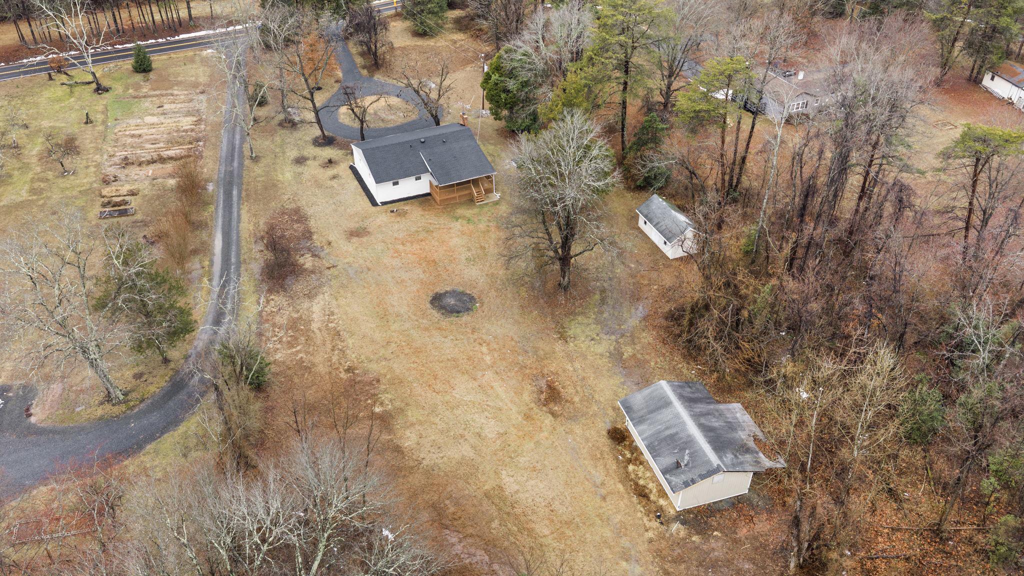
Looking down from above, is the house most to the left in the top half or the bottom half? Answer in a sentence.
The top half of the photo is where the house most to the left is.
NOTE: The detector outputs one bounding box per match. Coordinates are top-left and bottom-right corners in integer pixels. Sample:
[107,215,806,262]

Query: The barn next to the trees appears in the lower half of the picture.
[617,380,789,513]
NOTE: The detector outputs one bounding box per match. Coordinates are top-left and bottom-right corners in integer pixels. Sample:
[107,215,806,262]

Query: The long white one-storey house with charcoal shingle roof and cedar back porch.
[348,113,503,206]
